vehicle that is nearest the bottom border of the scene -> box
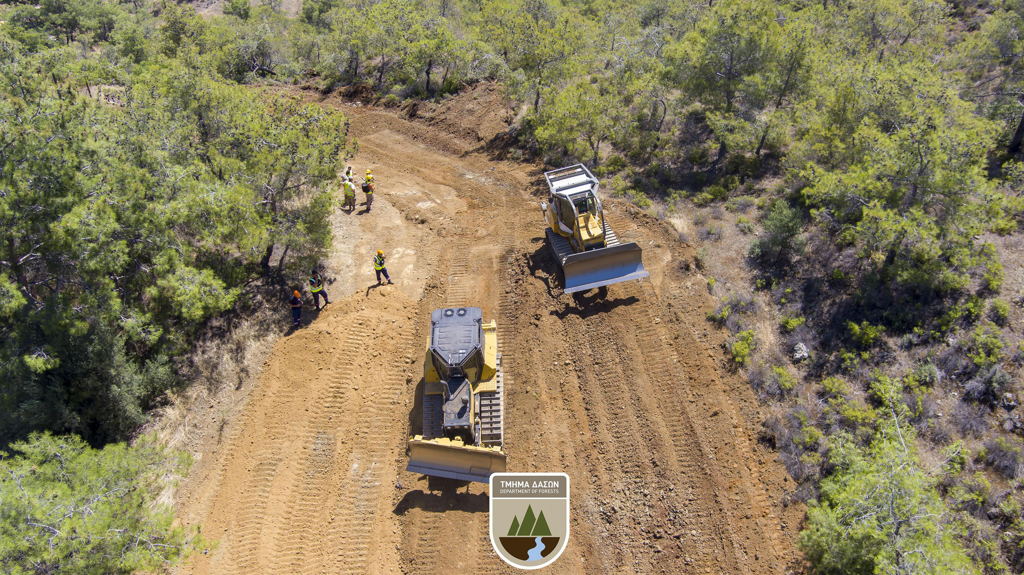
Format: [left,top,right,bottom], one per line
[406,305,509,486]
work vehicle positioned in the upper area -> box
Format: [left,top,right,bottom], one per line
[532,161,649,297]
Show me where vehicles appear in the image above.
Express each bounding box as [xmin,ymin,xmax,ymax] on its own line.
[406,305,509,486]
[532,161,649,297]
